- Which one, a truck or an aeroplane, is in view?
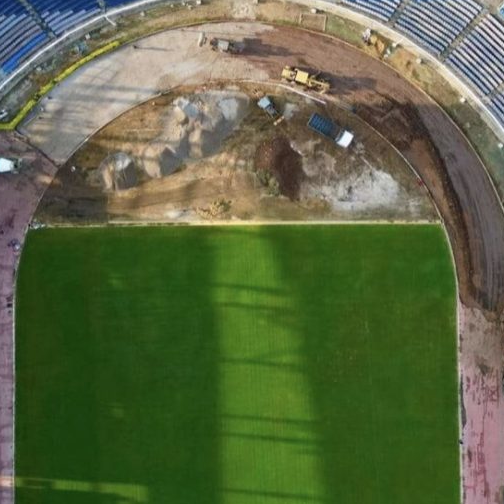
truck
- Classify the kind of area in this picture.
sports ground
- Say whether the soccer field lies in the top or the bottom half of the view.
bottom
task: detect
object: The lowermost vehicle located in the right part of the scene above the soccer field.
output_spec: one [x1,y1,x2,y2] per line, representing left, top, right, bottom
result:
[306,112,355,149]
